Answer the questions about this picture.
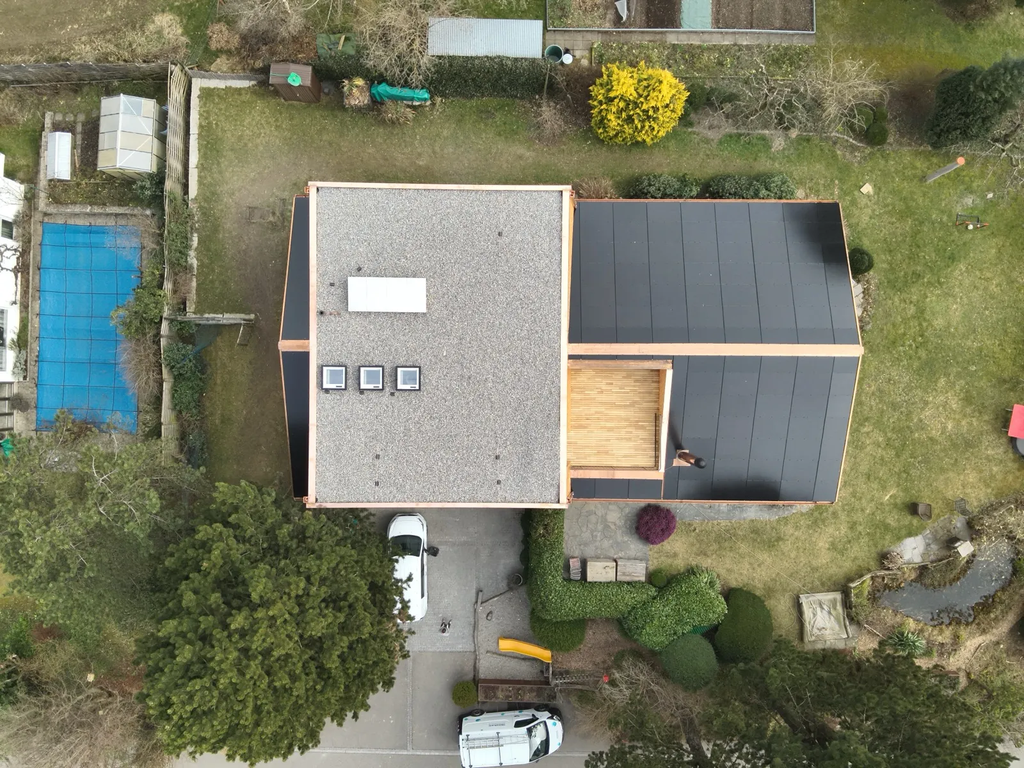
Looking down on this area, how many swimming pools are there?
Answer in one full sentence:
I count 1 swimming pool.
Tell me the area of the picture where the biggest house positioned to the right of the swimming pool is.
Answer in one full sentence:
The biggest house positioned to the right of the swimming pool sits in the center section of the image.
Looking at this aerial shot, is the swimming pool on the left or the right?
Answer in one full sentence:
The swimming pool sits on the left side.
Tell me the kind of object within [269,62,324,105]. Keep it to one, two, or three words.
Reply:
shed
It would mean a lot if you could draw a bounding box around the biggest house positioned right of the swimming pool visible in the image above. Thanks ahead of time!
[276,182,866,508]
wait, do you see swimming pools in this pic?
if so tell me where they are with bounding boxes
[32,222,145,433]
